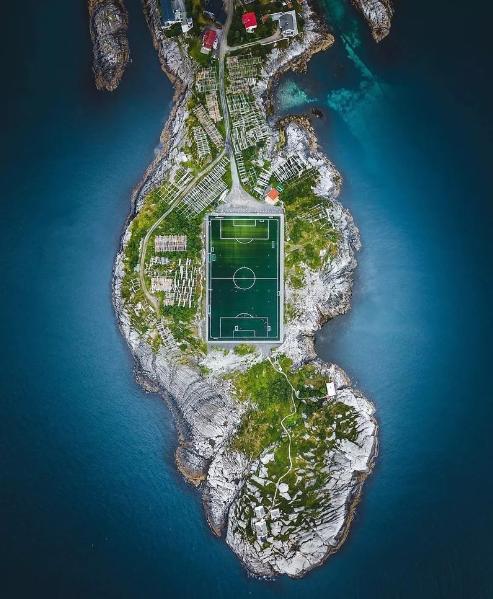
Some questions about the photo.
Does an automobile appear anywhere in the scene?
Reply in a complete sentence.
No, there is no automobile in the image.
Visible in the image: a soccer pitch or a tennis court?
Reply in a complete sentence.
Visible in the photo is a soccer pitch.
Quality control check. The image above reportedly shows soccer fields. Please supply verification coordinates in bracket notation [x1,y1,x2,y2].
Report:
[206,213,284,343]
